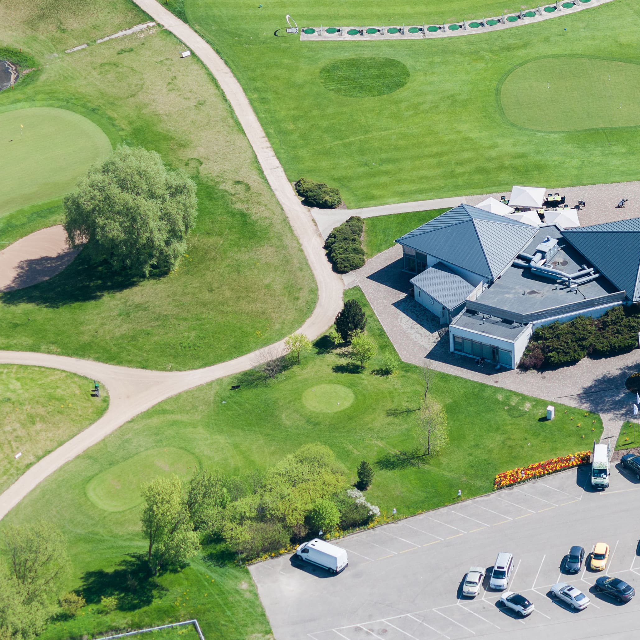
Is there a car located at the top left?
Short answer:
No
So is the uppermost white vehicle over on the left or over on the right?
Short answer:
right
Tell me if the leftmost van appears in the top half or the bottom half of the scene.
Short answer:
bottom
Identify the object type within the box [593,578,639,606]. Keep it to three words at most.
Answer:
car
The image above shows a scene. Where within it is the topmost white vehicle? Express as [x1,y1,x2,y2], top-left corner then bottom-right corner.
[589,436,612,493]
